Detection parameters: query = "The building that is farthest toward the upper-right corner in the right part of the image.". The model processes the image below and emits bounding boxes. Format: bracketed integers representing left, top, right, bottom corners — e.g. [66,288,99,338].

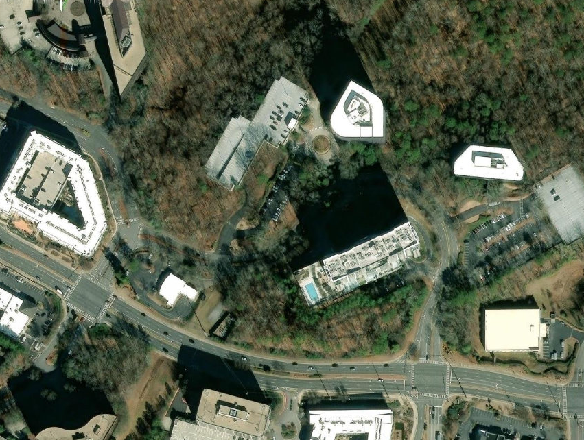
[453,146,524,182]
